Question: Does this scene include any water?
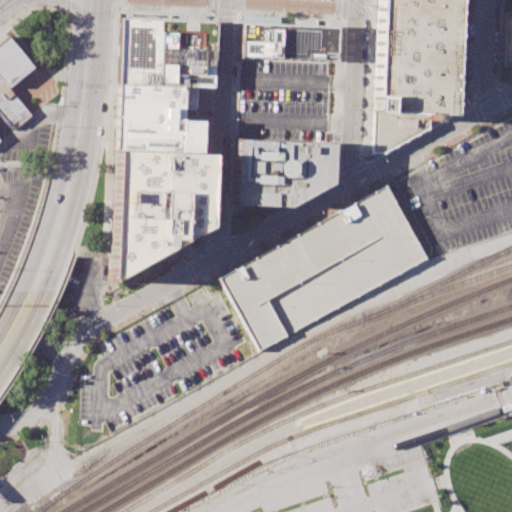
No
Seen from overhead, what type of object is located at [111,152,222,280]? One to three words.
building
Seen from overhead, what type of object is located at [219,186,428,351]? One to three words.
building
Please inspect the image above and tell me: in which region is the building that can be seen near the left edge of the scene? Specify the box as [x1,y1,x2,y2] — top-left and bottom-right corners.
[0,38,36,128]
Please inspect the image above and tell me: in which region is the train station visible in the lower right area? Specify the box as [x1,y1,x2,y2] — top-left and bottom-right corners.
[258,347,512,450]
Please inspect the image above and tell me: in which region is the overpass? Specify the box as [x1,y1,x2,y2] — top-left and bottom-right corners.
[0,257,79,400]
